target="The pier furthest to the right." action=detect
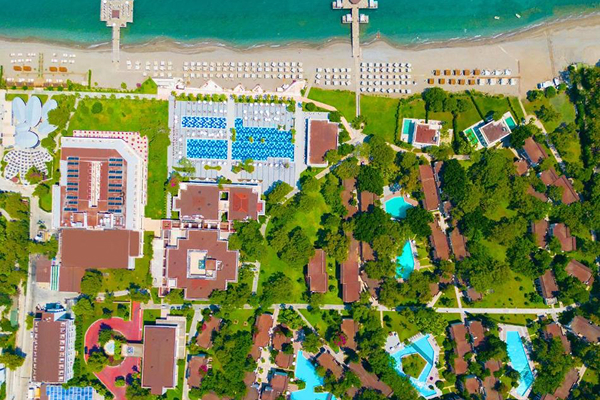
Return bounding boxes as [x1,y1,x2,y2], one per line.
[333,0,378,57]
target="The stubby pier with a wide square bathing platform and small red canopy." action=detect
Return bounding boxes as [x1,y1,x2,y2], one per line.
[100,0,134,62]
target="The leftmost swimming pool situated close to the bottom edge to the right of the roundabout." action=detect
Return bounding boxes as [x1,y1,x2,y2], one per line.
[291,353,325,400]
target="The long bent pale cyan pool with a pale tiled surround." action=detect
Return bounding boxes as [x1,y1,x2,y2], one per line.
[506,330,535,398]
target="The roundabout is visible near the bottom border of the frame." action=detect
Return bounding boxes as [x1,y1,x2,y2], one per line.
[84,301,143,400]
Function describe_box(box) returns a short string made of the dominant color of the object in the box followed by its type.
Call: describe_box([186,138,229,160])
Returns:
blue swimming pool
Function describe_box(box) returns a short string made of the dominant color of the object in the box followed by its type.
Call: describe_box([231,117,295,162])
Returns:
blue swimming pool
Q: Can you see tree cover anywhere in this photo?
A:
Yes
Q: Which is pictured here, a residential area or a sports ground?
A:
residential area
